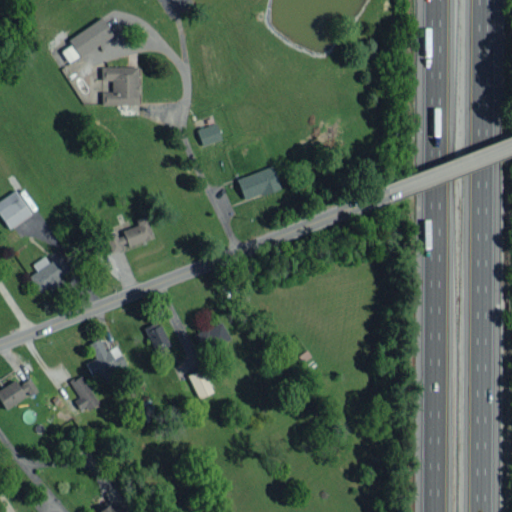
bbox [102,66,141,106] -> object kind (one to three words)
house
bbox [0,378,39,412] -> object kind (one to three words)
house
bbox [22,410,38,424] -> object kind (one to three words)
swimming pool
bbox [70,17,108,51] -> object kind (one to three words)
building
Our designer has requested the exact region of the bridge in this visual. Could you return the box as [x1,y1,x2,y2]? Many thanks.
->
[382,138,512,202]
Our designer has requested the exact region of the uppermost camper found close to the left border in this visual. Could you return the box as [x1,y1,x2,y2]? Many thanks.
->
[20,190,38,212]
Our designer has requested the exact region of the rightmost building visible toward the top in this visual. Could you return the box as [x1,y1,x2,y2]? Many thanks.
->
[240,168,282,200]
